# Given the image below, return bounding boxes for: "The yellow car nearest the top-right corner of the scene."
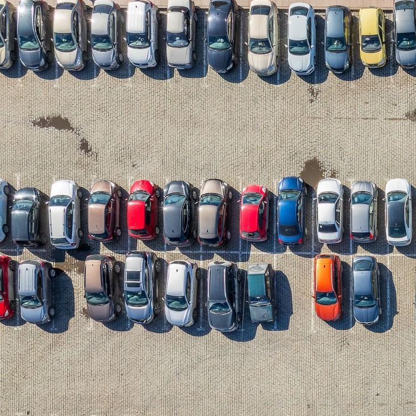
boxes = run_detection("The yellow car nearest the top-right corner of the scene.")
[356,7,388,68]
